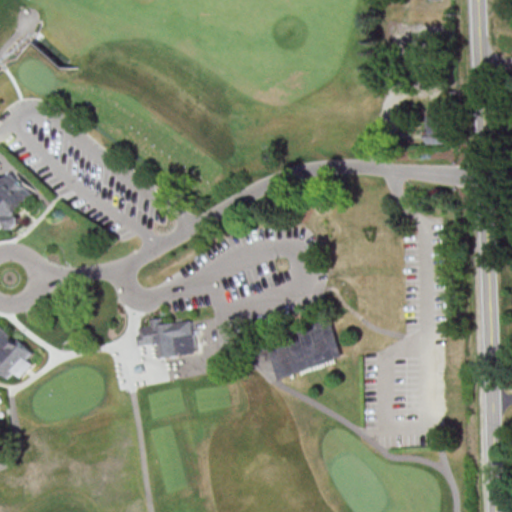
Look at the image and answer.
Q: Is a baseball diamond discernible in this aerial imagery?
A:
No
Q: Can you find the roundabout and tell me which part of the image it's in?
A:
left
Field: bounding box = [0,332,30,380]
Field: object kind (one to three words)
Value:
building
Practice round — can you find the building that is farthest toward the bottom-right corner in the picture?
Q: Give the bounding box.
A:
[271,326,340,378]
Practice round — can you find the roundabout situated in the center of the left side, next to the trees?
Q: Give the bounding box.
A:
[0,242,68,322]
